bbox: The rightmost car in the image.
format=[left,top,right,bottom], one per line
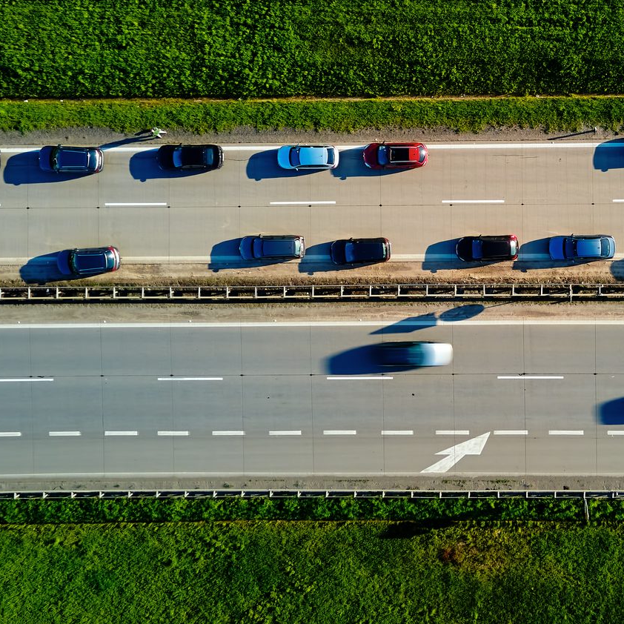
[549,233,616,263]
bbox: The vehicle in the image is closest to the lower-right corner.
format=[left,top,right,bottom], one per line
[383,339,453,370]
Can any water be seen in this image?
No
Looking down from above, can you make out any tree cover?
No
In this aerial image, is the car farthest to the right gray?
No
